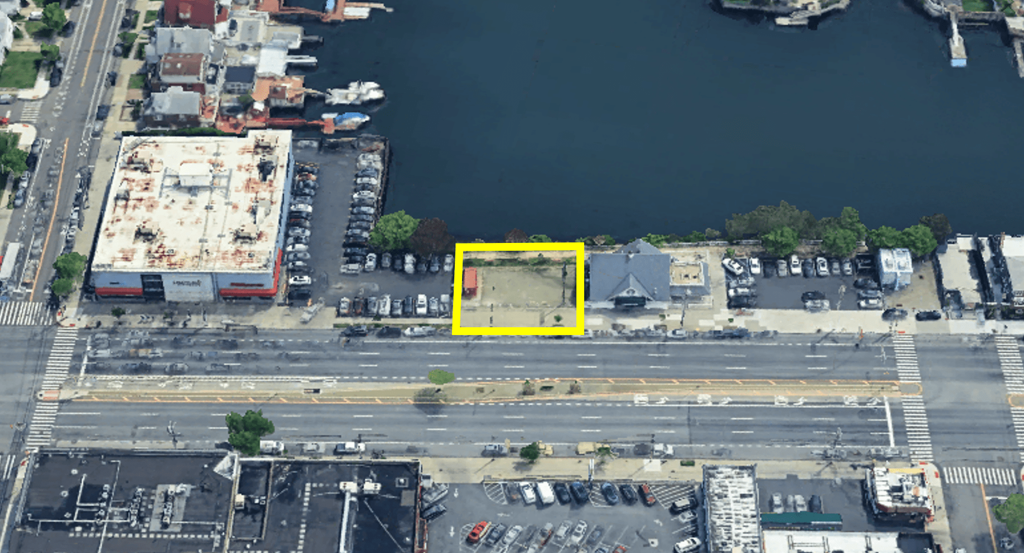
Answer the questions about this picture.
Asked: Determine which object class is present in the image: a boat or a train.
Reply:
boat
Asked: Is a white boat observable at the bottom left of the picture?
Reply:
No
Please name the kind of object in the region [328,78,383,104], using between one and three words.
boat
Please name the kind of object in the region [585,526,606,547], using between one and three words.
car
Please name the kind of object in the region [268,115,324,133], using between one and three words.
pier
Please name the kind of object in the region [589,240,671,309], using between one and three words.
building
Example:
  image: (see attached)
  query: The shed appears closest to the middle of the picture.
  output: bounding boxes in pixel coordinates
[465,269,478,298]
